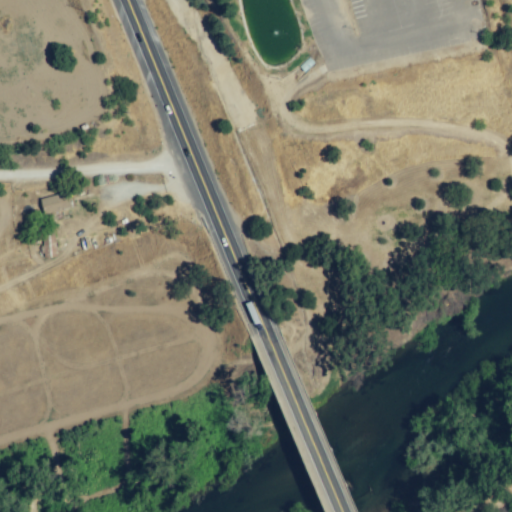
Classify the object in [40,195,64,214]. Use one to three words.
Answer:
house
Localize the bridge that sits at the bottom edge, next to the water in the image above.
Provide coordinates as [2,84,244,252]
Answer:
[253,330,358,512]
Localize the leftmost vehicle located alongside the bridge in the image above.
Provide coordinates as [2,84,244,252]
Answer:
[248,300,264,331]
